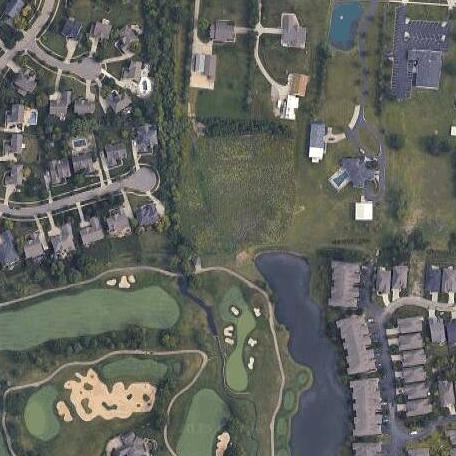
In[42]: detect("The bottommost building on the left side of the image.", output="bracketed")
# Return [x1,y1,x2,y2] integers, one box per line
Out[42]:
[117,430,153,456]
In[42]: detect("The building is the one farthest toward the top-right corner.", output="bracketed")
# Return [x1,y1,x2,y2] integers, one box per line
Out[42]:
[407,50,441,89]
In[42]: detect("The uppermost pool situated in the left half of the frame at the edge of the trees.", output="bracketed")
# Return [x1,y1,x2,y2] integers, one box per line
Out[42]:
[139,76,152,96]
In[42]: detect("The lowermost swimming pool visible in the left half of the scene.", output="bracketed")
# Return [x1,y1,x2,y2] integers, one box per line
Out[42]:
[68,135,91,153]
